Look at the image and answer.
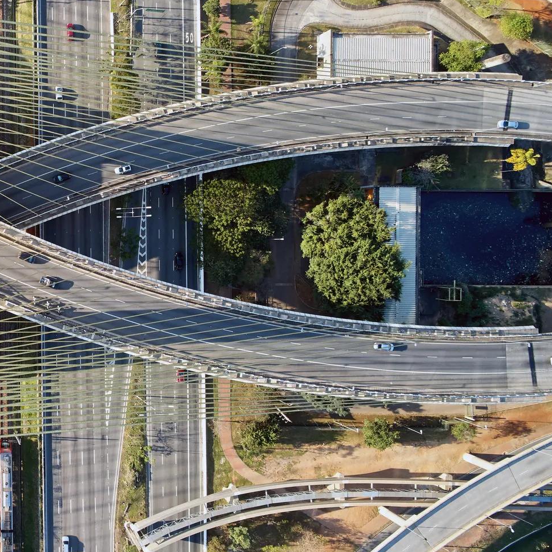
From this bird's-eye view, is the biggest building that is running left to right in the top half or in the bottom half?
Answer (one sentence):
It is in the top half that the biggest building that is running left to right appears.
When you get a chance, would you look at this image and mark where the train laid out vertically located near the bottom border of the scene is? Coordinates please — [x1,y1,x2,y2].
[0,438,12,552]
